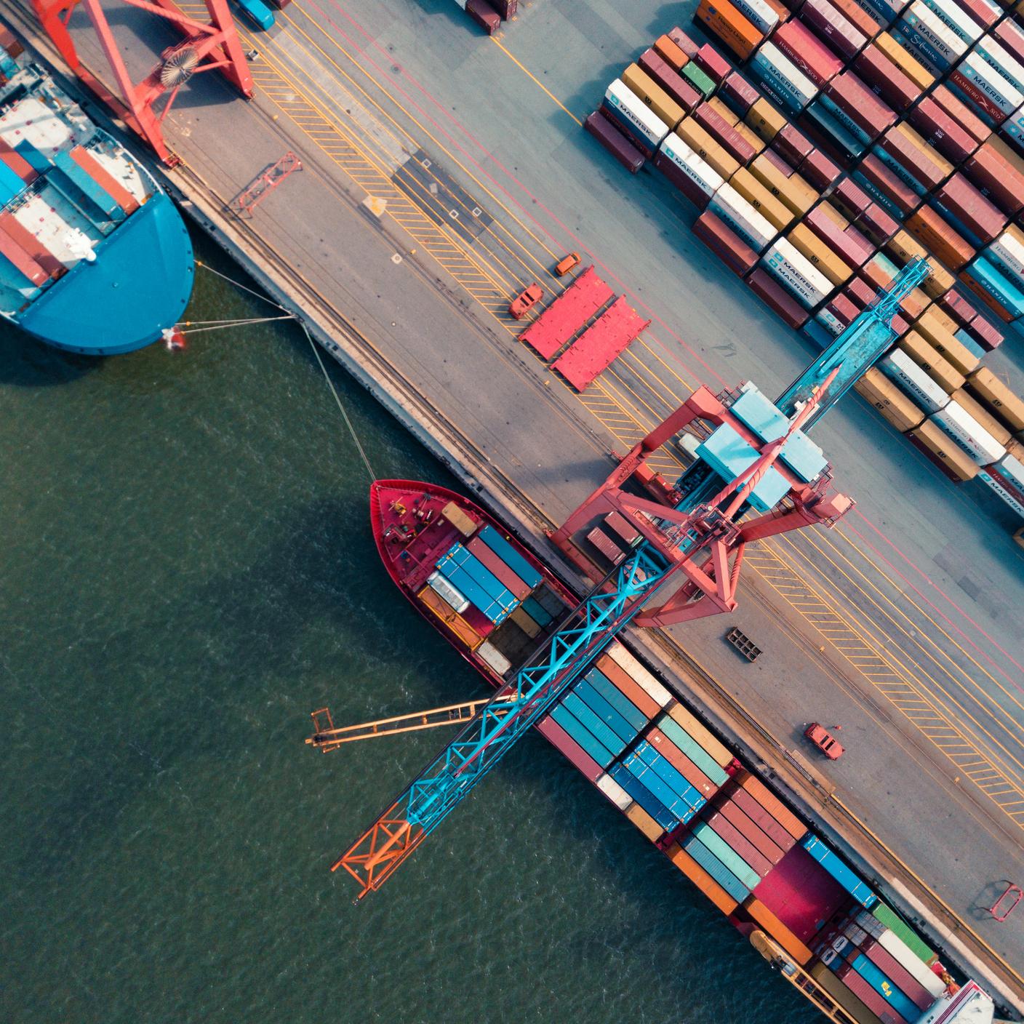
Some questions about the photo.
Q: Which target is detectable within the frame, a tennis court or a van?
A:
van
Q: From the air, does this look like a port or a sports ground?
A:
port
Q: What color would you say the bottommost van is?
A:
red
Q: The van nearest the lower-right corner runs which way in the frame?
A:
at an angle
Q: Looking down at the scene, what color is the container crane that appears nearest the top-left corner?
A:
red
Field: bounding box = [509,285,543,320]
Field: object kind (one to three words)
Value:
van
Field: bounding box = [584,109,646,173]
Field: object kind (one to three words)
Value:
shipping container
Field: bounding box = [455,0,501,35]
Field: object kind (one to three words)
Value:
shipping container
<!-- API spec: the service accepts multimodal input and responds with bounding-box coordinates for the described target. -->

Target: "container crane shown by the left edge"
[33,0,265,178]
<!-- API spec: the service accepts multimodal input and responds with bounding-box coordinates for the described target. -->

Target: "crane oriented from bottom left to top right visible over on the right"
[323,242,945,911]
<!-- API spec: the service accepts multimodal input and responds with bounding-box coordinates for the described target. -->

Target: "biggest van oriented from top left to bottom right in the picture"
[802,723,840,759]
